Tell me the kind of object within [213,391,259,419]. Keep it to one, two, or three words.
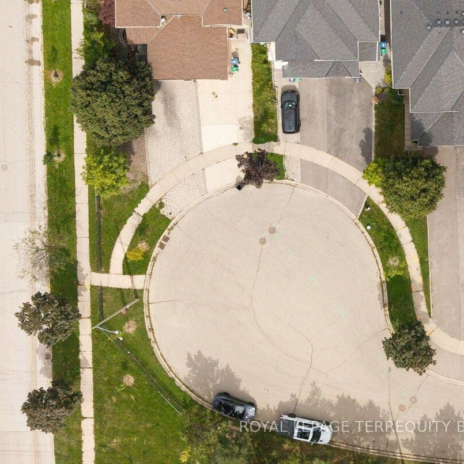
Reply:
car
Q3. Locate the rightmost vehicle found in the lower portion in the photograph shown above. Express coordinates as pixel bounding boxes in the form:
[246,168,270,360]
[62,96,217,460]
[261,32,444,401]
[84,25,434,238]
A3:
[277,415,334,445]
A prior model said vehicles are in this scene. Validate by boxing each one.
[279,90,300,134]
[277,415,334,445]
[213,391,259,419]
